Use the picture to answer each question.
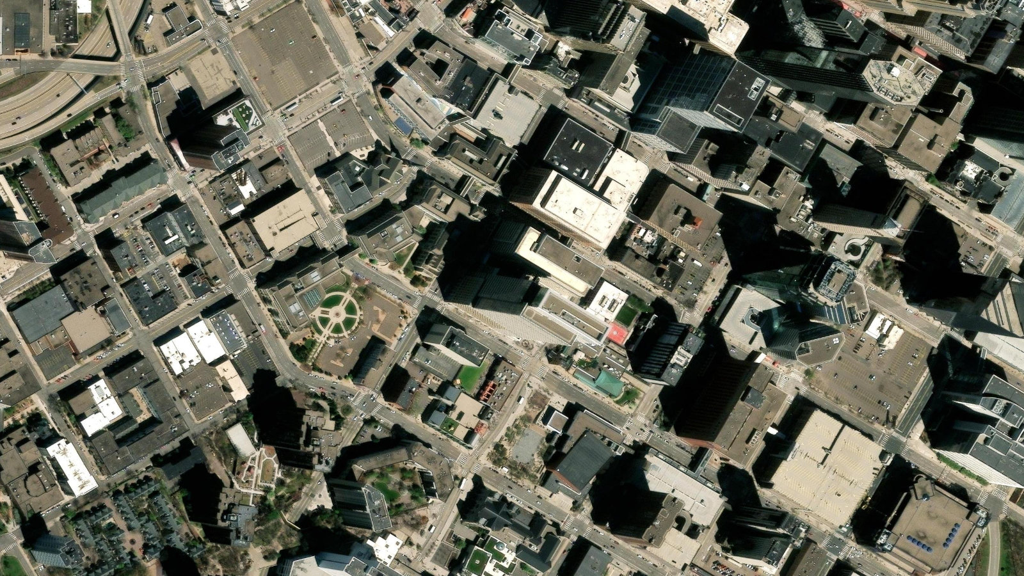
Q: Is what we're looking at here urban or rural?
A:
urban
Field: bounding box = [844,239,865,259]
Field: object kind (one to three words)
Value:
fountain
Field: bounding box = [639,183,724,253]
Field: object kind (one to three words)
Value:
building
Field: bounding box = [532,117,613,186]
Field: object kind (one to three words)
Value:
building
